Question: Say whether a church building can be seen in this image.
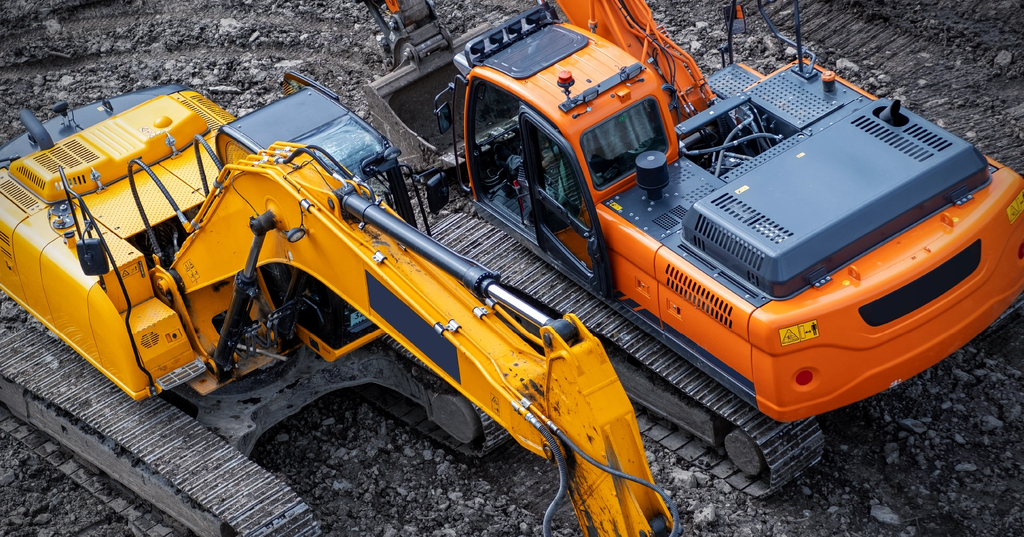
No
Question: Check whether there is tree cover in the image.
No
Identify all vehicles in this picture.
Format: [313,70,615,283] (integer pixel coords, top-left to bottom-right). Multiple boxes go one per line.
[364,0,1020,497]
[0,72,684,537]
